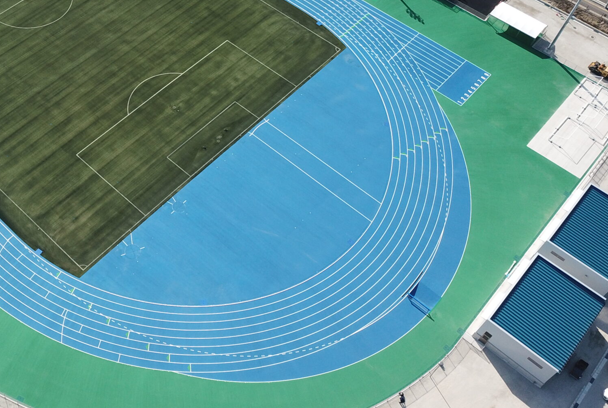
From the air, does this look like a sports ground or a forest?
sports ground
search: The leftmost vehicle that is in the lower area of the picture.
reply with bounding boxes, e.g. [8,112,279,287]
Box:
[568,352,594,384]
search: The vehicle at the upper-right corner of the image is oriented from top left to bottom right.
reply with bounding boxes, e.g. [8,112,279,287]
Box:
[581,54,608,78]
